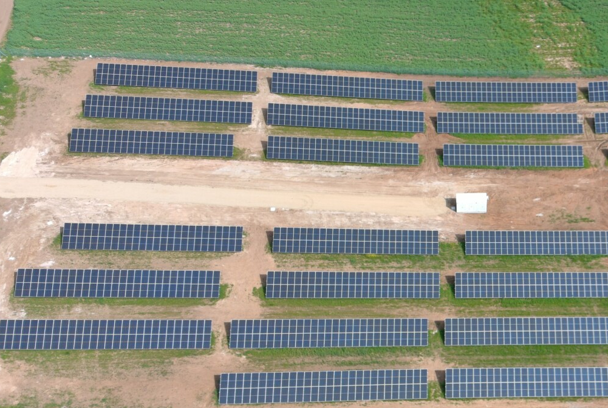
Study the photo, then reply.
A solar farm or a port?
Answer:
solar farm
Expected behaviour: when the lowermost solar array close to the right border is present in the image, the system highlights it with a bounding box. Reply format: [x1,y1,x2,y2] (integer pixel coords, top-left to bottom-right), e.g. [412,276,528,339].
[444,368,608,398]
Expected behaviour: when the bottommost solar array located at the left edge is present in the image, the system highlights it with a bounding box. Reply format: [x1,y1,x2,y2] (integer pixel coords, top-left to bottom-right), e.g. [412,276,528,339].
[0,320,213,349]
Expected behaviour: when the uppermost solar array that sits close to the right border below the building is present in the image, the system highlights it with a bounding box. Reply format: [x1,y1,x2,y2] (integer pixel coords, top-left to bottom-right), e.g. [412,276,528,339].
[465,231,608,255]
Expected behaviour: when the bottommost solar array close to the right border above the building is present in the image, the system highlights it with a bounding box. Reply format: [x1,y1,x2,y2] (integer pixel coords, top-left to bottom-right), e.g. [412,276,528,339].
[443,144,584,166]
